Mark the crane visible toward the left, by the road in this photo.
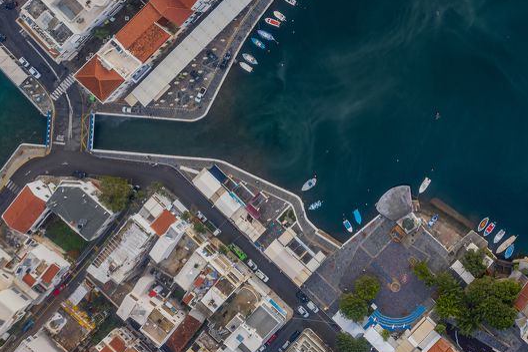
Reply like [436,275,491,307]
[58,298,98,330]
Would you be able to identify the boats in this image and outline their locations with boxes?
[239,62,255,74]
[483,222,495,237]
[342,218,352,232]
[419,176,431,194]
[274,12,287,22]
[252,38,266,51]
[285,0,298,8]
[354,208,362,225]
[495,238,515,255]
[258,30,276,42]
[492,229,505,243]
[242,53,260,66]
[302,176,318,191]
[427,214,438,228]
[265,18,282,28]
[504,243,513,258]
[477,217,489,232]
[309,198,323,209]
